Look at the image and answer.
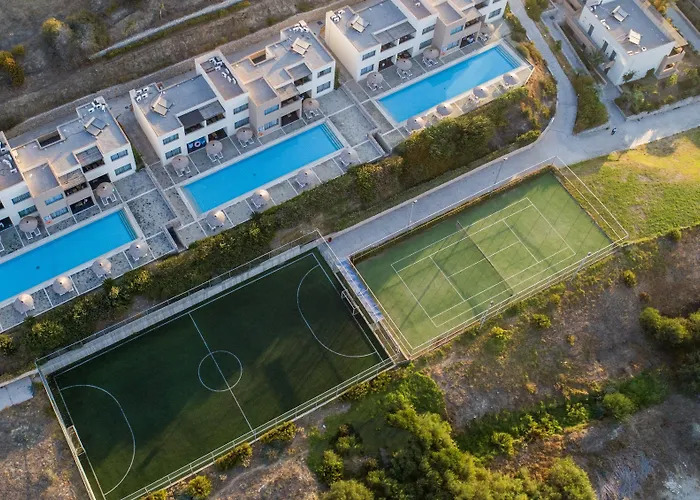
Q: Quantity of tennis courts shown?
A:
one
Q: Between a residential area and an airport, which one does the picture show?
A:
residential area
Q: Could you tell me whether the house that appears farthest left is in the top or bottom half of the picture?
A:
top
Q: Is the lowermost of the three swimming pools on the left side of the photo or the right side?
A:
left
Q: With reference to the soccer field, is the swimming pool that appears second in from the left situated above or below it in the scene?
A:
above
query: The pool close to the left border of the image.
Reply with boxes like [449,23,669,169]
[0,209,143,311]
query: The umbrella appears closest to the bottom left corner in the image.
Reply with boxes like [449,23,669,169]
[13,293,33,313]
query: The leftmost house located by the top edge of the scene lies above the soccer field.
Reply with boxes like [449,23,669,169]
[127,23,335,166]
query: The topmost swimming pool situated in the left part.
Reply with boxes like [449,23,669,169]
[175,118,350,220]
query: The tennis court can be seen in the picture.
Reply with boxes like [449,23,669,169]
[351,171,613,355]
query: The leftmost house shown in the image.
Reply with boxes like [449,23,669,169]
[0,102,135,237]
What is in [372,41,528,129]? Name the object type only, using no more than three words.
swimming pool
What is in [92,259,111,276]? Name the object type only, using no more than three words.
umbrella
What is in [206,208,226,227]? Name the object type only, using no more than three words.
umbrella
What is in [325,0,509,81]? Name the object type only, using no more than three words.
house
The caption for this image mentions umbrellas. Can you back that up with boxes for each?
[254,188,271,205]
[21,217,39,235]
[94,183,111,200]
[206,140,222,156]
[92,259,111,276]
[297,168,314,185]
[422,46,438,63]
[367,72,383,88]
[396,57,412,73]
[51,277,70,295]
[482,23,497,38]
[236,126,253,143]
[407,117,423,134]
[303,97,320,115]
[473,85,489,102]
[206,208,226,227]
[13,293,33,313]
[172,154,189,171]
[437,102,453,118]
[502,72,517,89]
[129,241,148,259]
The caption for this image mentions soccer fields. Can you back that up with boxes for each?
[46,253,394,500]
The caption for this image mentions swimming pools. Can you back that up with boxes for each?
[372,41,528,129]
[175,118,350,220]
[0,209,143,311]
